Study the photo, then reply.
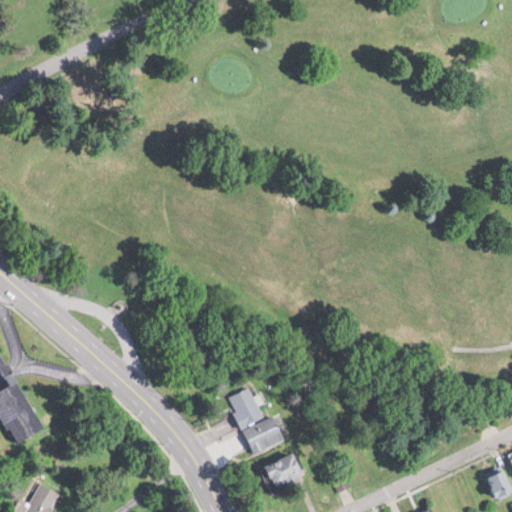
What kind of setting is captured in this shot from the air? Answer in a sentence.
This image shows a golf course.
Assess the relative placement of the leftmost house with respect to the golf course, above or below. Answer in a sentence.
In the image, the leftmost house sits below the golf course.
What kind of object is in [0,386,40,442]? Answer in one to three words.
house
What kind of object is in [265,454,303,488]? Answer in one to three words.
house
